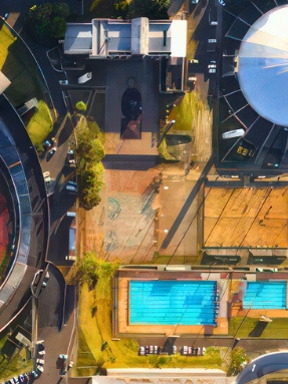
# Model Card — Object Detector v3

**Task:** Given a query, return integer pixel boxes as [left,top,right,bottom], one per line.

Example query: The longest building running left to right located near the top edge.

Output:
[59,19,187,61]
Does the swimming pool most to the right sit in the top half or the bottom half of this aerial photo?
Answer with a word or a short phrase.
bottom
